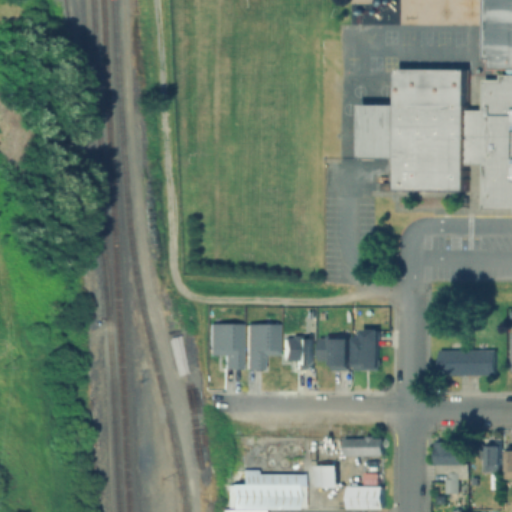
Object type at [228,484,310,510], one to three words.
building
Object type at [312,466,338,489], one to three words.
building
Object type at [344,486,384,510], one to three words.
barn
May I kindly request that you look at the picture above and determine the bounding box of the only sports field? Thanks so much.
[175,0,342,281]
